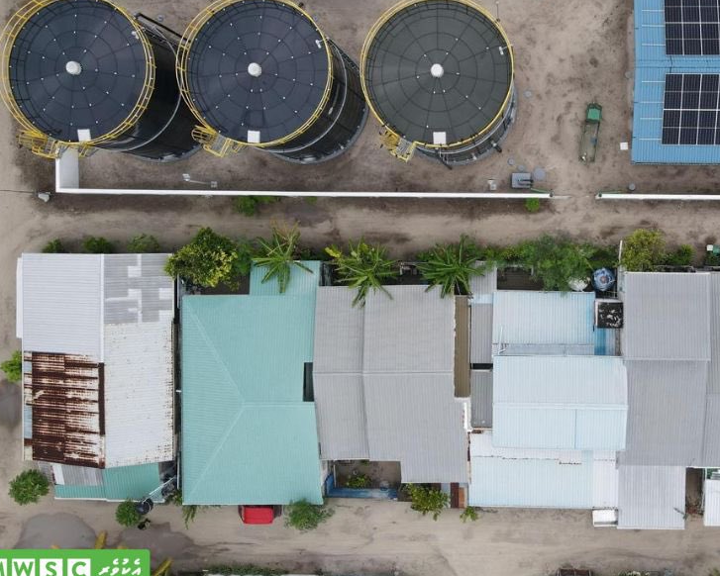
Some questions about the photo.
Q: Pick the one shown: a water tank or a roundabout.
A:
water tank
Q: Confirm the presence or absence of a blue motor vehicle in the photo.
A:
No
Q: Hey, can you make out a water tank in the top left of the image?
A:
Yes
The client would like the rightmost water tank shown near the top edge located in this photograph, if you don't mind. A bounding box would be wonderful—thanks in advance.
[357,0,518,166]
